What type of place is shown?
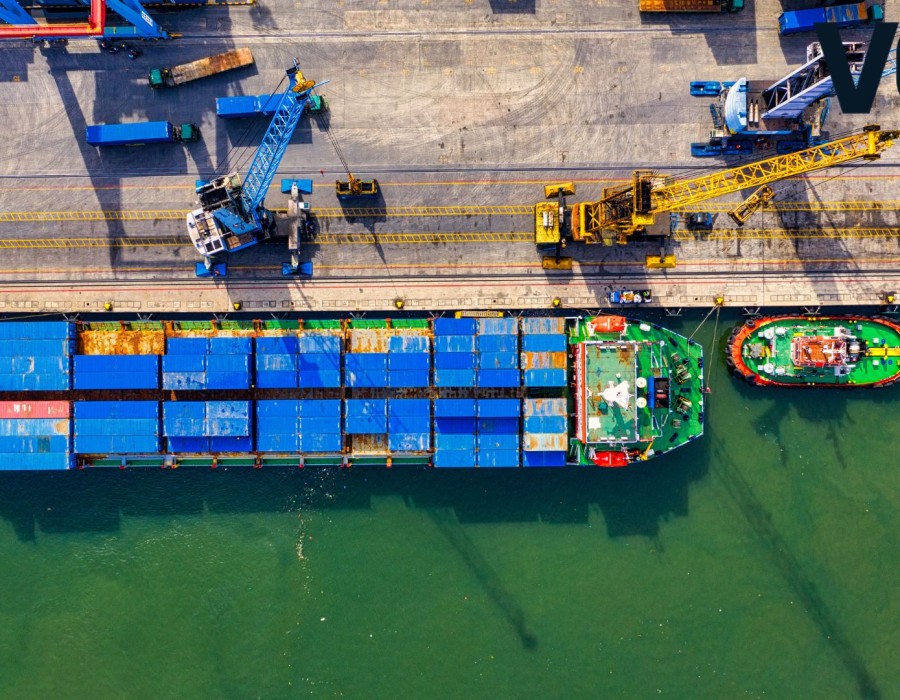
port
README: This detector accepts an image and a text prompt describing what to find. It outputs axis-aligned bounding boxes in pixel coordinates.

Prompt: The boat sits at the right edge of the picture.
[727,315,900,387]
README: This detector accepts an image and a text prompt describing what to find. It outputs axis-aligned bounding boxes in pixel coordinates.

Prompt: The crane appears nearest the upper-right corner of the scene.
[688,40,900,157]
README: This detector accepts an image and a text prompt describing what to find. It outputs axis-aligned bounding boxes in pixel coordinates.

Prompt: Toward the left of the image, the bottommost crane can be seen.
[188,57,352,278]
